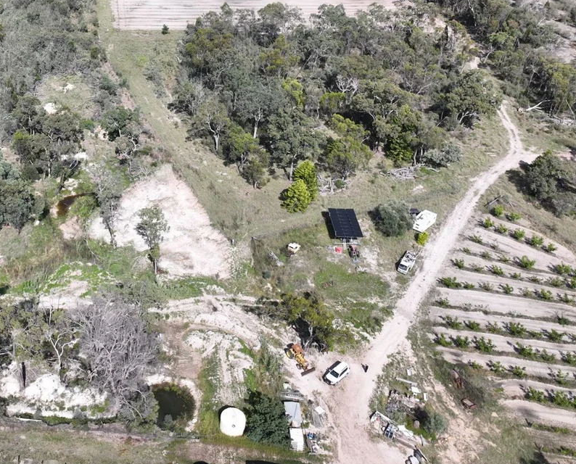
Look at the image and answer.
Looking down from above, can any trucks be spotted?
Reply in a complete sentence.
Yes, the photo shows a truck.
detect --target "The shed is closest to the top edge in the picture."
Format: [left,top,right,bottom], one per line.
[284,402,304,431]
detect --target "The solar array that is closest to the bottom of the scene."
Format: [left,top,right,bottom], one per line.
[329,208,363,243]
